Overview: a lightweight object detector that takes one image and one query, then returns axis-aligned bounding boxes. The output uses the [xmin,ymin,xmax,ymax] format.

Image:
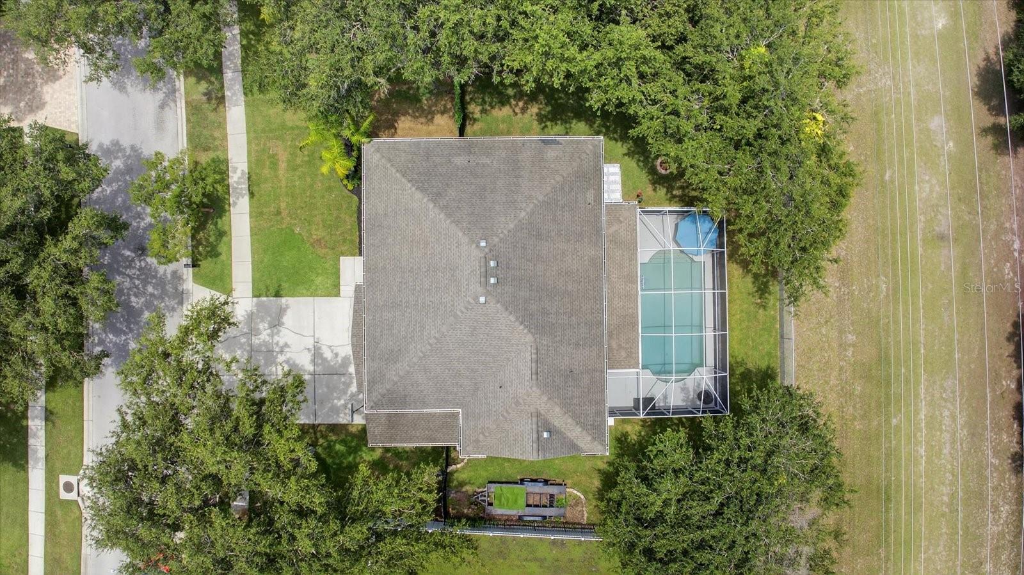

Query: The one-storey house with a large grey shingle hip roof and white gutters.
[351,133,644,464]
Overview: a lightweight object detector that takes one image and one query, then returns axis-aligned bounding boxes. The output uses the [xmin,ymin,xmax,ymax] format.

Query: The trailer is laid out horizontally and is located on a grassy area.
[471,476,567,523]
